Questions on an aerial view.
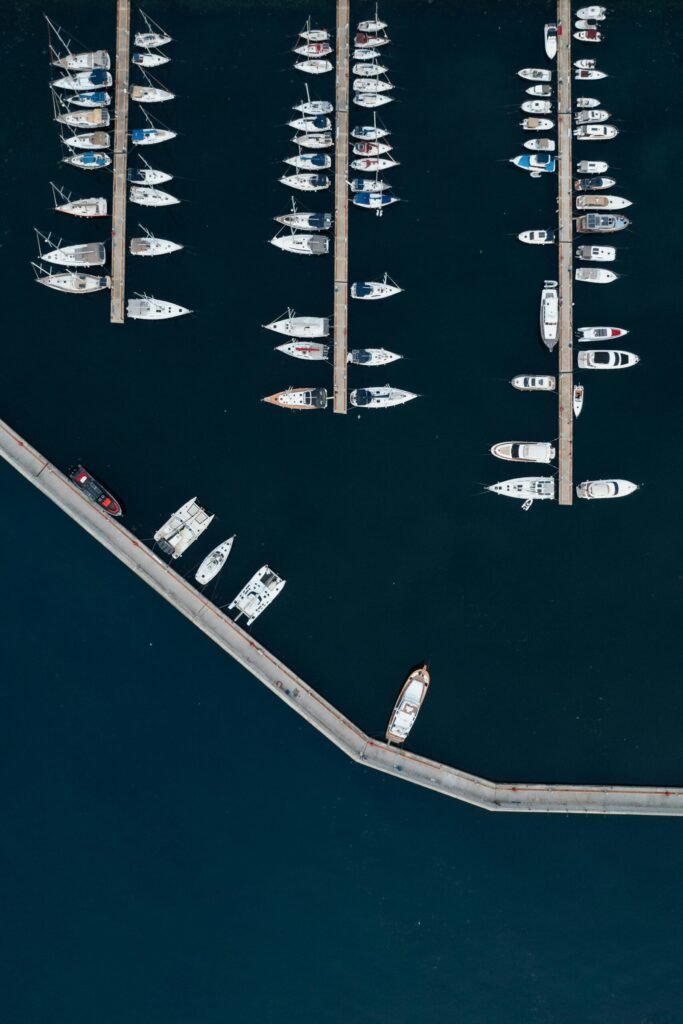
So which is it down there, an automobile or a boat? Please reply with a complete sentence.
I can see a boat in this picture.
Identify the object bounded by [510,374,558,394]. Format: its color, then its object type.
white boat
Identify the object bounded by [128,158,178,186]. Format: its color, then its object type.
white boat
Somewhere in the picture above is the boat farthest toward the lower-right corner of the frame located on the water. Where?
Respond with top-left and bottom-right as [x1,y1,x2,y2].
[384,655,429,753]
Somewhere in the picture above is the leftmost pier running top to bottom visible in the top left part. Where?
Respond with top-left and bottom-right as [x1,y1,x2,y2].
[111,0,131,324]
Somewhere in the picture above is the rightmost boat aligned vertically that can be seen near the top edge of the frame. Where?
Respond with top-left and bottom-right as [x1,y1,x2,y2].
[543,25,558,60]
